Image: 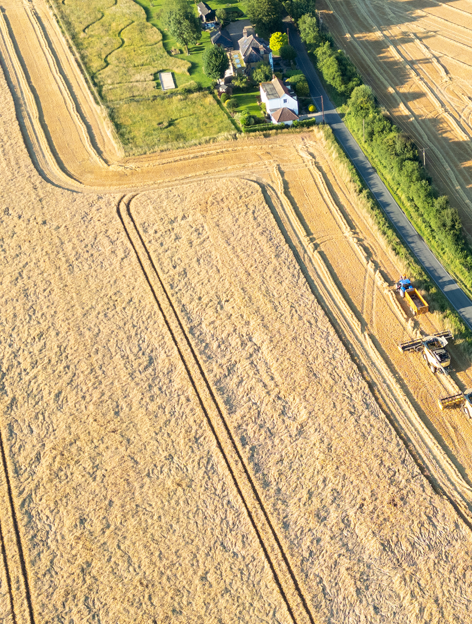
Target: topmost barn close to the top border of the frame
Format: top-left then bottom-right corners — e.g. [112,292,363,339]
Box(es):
[195,0,217,22]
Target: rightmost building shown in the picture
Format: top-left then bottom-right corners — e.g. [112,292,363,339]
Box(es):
[259,71,302,128]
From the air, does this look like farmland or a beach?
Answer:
farmland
